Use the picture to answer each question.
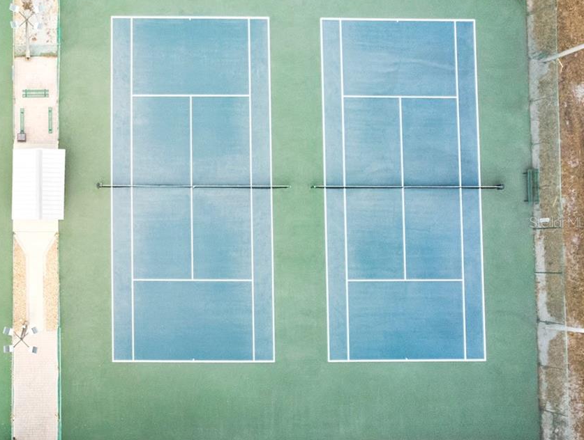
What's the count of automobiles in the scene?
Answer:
0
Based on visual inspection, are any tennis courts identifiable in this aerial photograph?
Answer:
Yes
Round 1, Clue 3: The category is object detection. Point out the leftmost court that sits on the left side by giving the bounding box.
[112,17,275,362]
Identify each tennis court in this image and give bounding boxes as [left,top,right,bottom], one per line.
[320,19,486,362]
[112,17,275,362]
